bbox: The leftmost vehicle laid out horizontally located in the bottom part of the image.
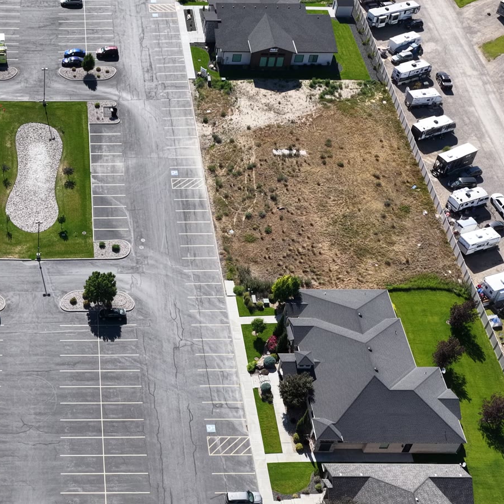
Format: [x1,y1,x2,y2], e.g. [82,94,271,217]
[99,307,128,320]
